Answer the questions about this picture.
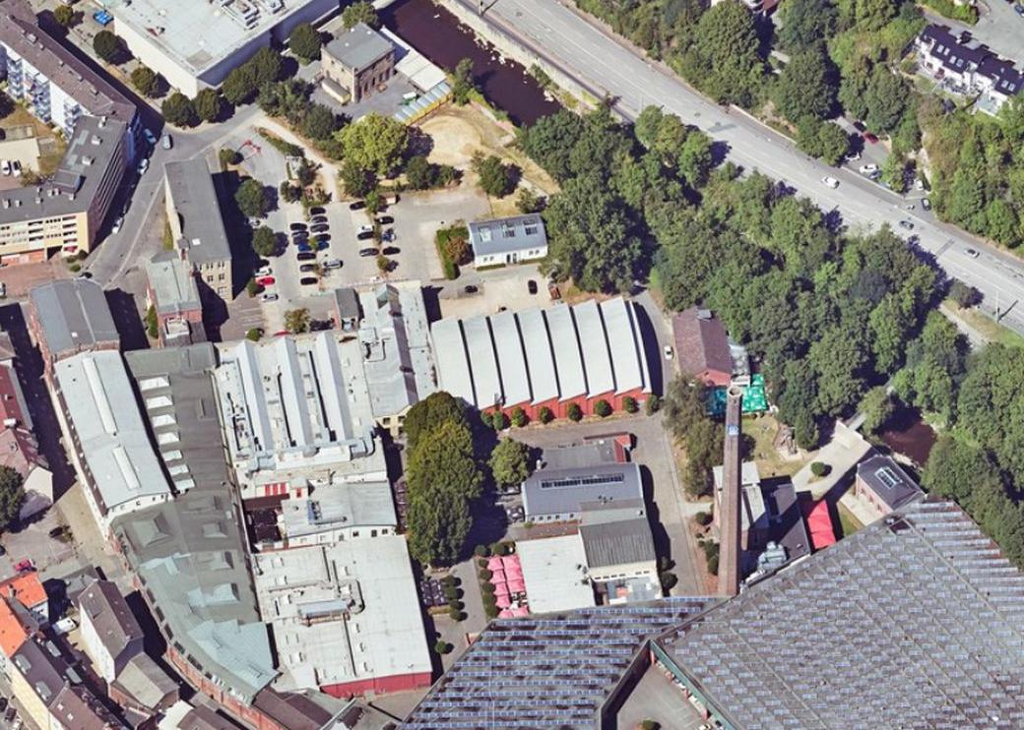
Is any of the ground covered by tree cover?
Yes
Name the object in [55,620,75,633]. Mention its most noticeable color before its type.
white vehicle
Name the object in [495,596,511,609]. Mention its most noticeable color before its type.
pink umbrella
